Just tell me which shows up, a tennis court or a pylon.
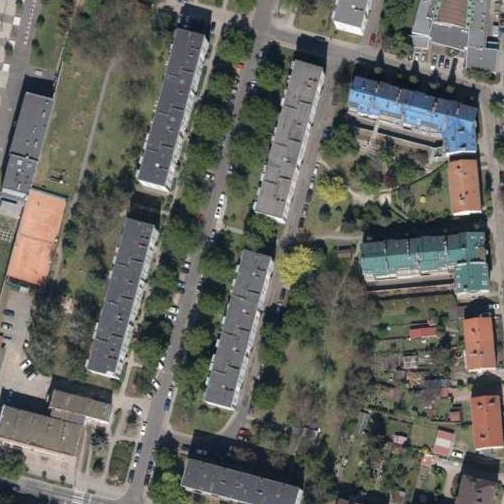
tennis court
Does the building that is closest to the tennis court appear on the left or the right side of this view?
left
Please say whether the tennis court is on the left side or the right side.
left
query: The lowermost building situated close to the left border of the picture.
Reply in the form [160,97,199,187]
[0,390,115,457]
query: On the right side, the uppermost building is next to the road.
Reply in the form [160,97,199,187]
[334,0,372,36]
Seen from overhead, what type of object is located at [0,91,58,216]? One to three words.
building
